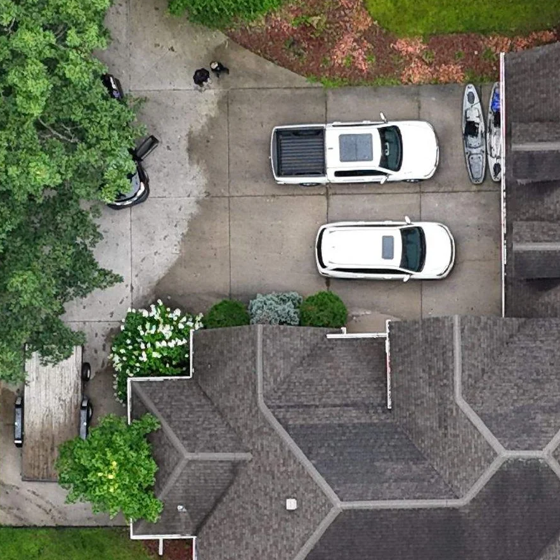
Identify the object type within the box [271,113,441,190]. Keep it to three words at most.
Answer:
truck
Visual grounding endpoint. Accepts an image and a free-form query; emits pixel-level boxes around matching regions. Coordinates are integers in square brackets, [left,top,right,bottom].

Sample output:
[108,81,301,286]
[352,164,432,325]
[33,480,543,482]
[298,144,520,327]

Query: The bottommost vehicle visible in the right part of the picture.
[316,216,456,286]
